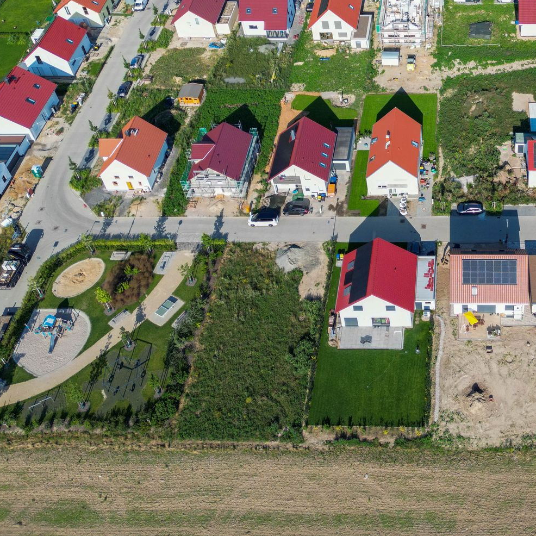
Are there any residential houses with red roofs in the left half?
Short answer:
Yes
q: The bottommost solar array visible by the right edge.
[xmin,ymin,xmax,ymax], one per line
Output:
[462,260,516,285]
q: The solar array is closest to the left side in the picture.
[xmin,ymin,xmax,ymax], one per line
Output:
[272,124,298,177]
